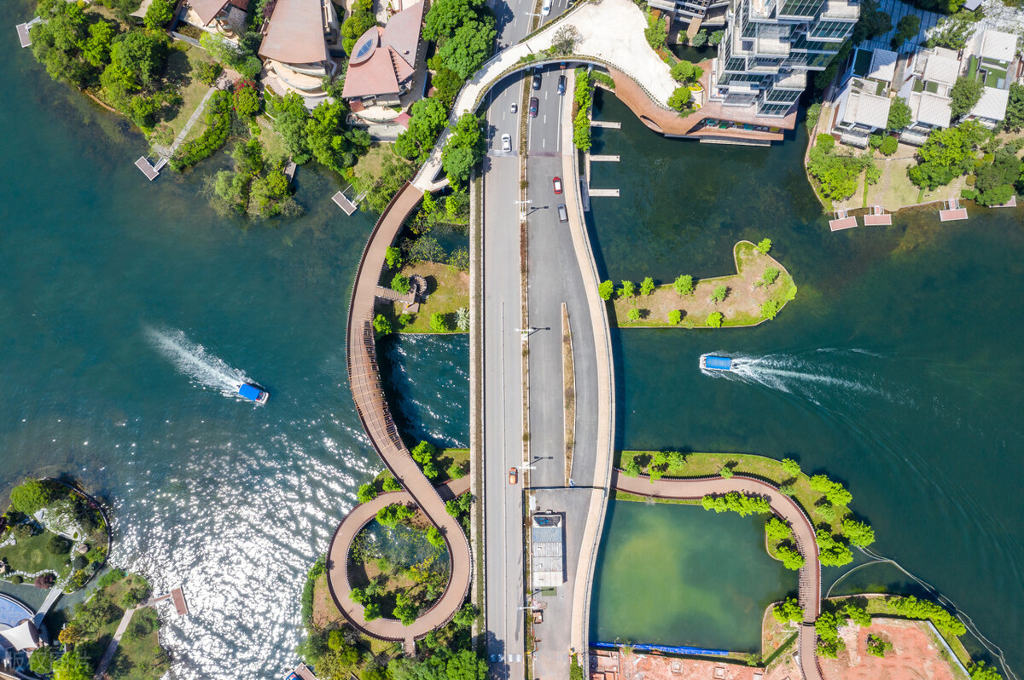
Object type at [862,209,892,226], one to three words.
pier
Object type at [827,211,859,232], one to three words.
pier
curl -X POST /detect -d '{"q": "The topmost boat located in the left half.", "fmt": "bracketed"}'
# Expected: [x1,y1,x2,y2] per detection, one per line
[237,380,270,403]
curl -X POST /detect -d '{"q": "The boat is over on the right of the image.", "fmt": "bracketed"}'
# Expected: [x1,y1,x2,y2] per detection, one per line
[699,356,735,370]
